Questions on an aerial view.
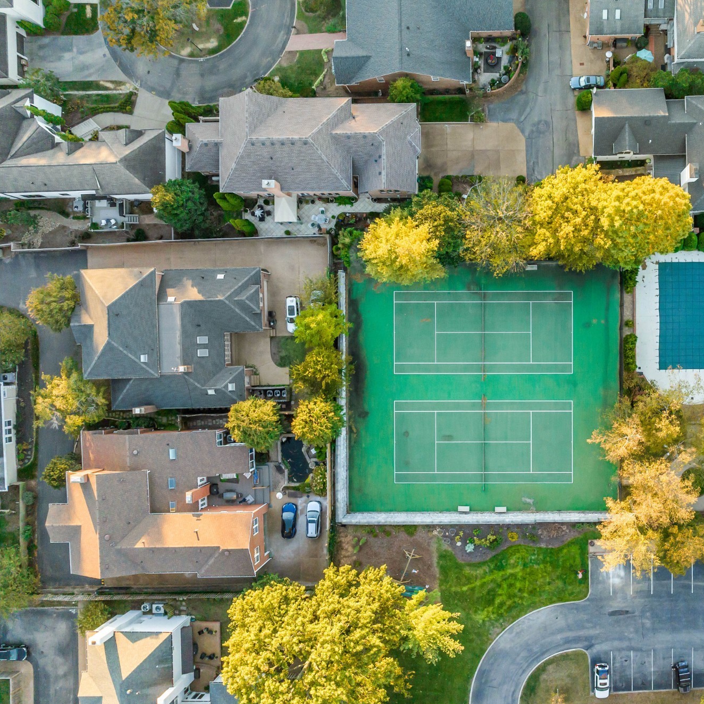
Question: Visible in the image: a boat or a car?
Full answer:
There is a car in the scene.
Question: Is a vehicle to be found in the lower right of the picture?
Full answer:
Yes, a vehicle can be seen in the lower right of the picture.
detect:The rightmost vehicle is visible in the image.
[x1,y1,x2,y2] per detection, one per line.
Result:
[673,658,692,693]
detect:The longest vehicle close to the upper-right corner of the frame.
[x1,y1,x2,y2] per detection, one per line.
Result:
[570,72,605,90]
